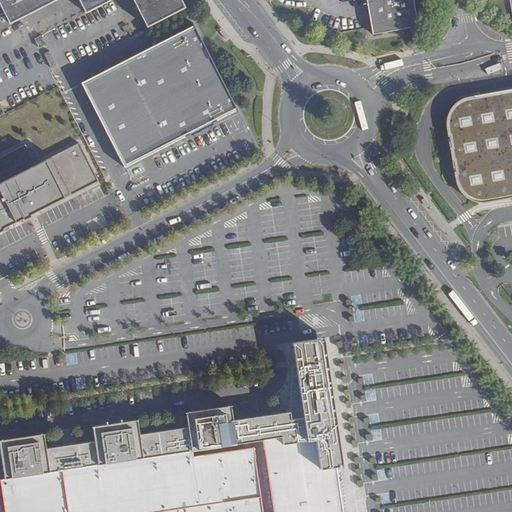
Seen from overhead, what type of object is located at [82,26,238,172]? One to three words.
building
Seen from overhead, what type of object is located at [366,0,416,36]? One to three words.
building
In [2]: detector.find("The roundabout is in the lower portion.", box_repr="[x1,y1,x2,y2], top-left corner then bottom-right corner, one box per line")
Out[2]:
[0,288,51,348]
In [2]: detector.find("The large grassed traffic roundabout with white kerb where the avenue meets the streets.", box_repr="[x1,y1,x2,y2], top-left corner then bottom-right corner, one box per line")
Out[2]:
[280,66,379,164]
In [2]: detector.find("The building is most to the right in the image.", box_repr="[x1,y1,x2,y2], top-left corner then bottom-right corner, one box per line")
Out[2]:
[446,89,512,202]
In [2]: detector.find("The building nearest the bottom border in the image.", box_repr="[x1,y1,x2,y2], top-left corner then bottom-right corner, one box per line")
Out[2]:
[0,337,348,512]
